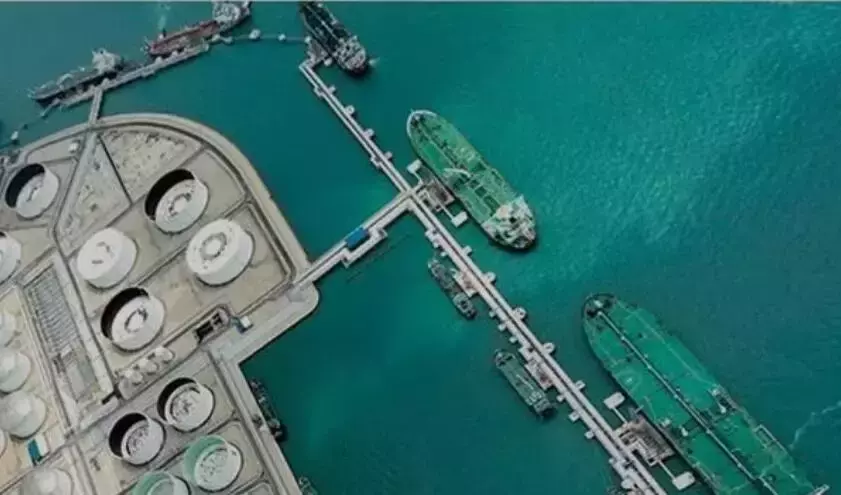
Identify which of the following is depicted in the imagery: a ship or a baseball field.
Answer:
ship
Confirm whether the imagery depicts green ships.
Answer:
Yes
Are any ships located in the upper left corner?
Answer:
Yes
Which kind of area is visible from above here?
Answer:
industrial area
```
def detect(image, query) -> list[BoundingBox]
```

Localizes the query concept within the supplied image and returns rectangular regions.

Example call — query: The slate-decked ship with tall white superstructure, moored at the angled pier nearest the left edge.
[23,49,131,106]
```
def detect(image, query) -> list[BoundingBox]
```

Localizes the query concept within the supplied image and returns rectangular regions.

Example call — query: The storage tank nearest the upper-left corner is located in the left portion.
[5,163,62,220]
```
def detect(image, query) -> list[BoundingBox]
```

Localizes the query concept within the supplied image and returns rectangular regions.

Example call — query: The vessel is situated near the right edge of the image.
[551,291,828,495]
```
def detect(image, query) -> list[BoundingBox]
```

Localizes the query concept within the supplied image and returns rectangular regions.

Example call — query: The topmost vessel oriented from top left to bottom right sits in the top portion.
[289,0,375,80]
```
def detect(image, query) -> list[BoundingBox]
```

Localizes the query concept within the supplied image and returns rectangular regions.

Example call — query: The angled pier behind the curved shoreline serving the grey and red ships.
[59,41,209,111]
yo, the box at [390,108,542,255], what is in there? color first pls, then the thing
green ship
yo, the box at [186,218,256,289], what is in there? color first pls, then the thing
white storage tank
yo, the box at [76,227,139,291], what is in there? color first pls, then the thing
white storage tank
